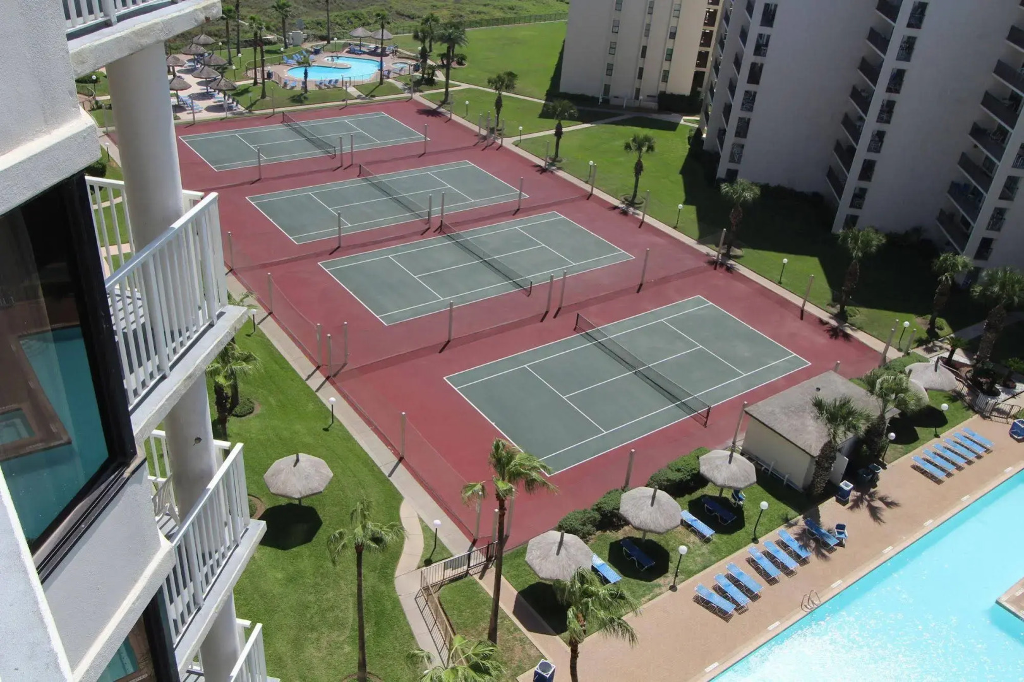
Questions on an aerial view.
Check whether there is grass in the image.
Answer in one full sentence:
Yes, there is grass in the image.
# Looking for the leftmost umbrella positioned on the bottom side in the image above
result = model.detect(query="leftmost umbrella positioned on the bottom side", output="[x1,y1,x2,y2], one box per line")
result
[261,454,331,509]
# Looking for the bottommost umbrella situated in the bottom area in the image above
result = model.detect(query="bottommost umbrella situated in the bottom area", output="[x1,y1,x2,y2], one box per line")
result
[522,528,598,588]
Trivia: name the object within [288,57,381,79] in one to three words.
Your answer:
swimming pool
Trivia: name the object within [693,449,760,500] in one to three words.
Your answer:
umbrella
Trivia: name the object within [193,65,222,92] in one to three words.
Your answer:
umbrella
